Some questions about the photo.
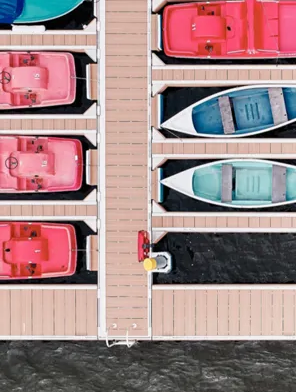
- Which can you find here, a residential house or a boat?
boat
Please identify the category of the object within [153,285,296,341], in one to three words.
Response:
pier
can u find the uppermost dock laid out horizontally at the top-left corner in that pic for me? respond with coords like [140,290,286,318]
[0,16,98,64]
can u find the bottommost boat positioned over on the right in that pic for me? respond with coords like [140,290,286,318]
[160,159,296,207]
